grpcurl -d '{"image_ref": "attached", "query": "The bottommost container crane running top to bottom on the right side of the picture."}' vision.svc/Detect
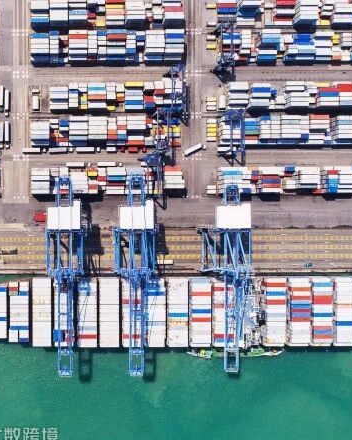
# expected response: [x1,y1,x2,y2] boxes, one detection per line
[202,185,266,376]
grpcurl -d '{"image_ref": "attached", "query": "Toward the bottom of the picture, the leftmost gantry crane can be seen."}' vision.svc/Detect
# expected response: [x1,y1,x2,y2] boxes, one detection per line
[45,173,107,378]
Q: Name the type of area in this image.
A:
port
